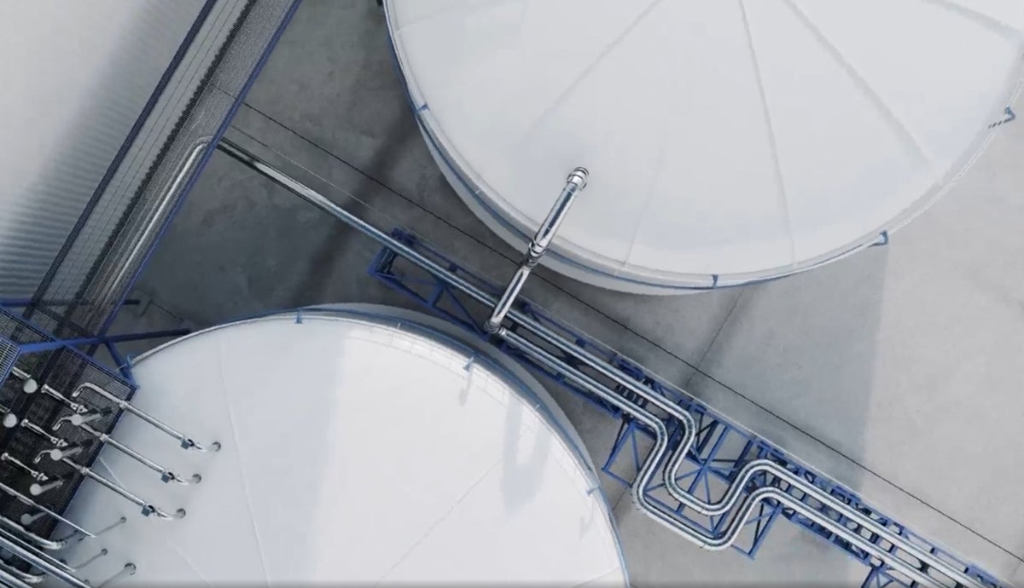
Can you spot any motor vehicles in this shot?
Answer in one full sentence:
No, the picture doesn't show any motor vehicle.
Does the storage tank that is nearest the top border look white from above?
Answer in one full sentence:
Yes, the storage tank that is nearest the top border is white.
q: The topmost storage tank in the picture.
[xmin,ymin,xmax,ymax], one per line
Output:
[371,0,1024,294]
